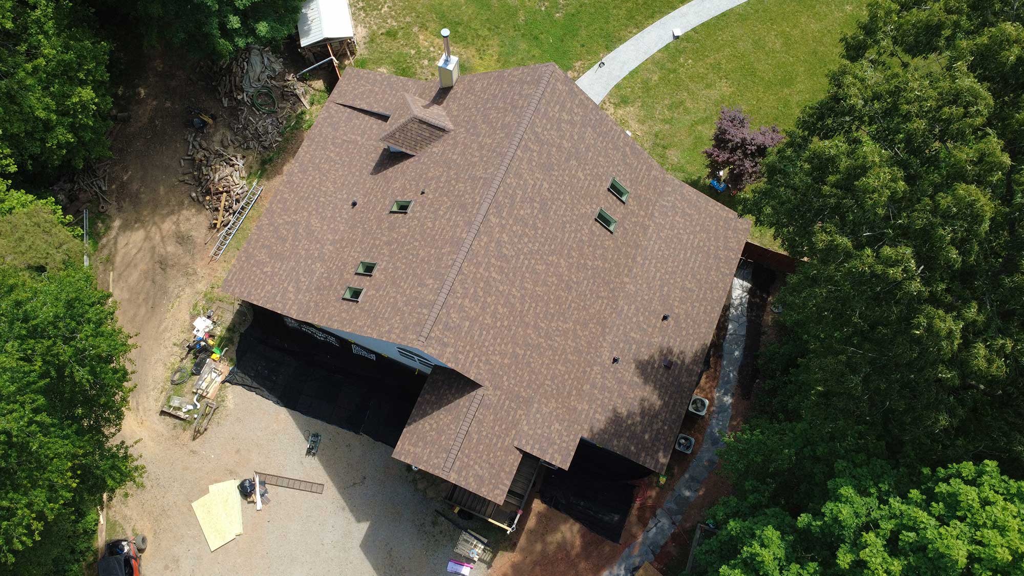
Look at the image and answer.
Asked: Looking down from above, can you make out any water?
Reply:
No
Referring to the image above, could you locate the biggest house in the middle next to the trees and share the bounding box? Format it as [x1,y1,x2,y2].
[223,22,749,533]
